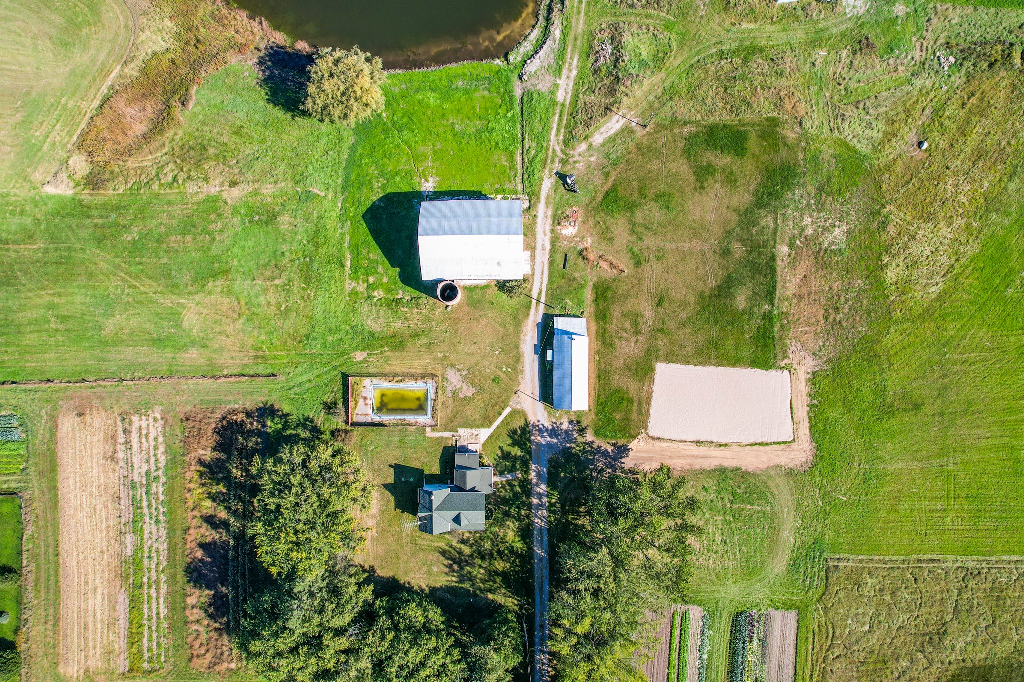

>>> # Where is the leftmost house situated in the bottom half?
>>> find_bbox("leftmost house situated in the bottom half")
[417,452,494,535]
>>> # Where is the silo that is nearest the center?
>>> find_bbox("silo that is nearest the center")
[436,280,464,306]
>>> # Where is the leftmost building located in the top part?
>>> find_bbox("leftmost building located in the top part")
[418,200,524,281]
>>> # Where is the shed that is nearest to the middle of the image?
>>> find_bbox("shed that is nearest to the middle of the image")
[547,318,588,411]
